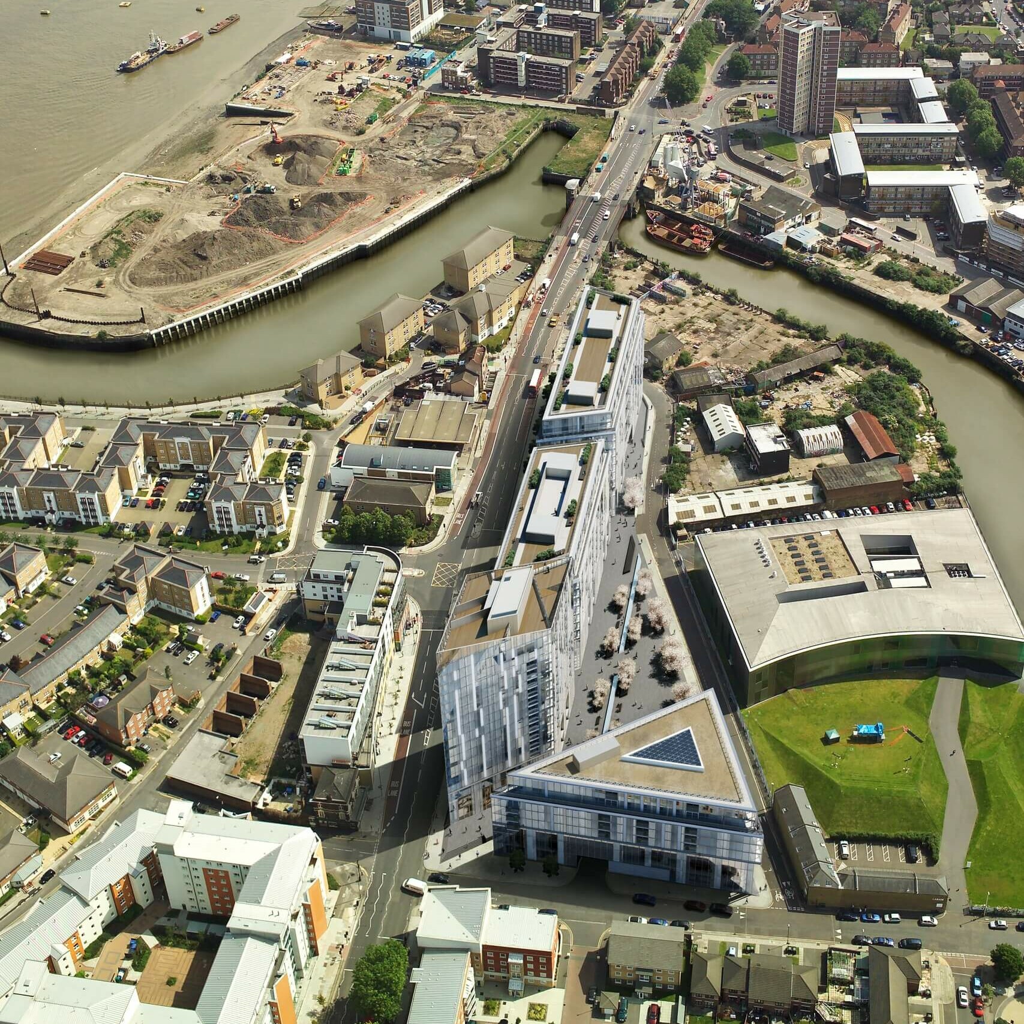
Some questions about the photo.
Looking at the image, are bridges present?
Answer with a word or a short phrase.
Yes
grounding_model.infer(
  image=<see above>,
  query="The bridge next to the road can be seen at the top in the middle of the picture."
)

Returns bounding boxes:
[549,159,646,249]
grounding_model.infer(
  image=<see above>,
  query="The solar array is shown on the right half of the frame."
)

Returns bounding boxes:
[628,731,699,768]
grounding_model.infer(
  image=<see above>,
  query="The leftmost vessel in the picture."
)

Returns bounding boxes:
[116,27,175,73]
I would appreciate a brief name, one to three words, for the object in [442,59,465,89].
house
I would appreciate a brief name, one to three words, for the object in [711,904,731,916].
vehicle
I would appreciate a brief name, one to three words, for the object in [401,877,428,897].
vehicle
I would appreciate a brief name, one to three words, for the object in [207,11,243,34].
vessel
